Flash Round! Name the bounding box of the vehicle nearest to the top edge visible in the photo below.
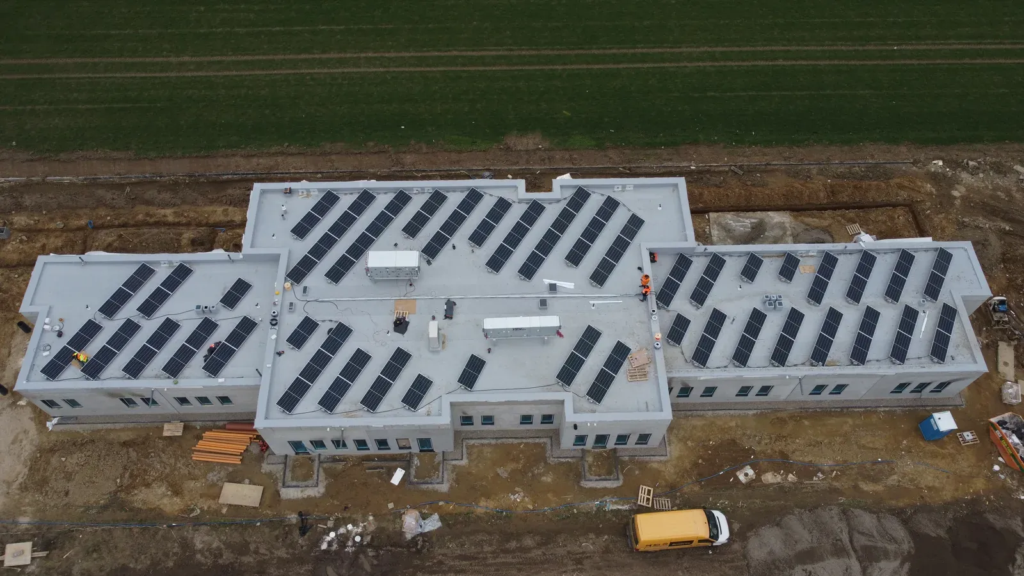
[991,295,1024,331]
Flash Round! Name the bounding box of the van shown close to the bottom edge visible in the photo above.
[624,505,728,553]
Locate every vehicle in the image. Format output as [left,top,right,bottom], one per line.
[624,505,728,553]
[991,295,1024,331]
